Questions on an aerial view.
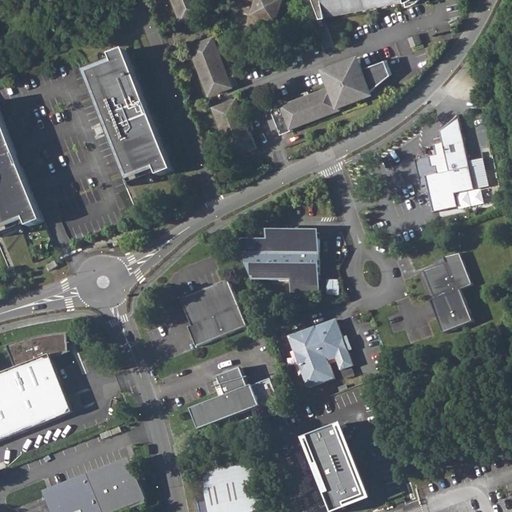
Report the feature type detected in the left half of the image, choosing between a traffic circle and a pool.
traffic circle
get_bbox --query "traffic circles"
[74,253,132,311]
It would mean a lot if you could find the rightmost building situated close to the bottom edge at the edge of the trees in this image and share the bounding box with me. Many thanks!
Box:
[298,422,371,512]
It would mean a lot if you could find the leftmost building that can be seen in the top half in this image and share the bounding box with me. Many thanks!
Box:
[0,120,47,235]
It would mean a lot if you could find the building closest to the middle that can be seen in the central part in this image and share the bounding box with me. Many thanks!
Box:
[240,228,324,294]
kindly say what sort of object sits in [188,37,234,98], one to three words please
house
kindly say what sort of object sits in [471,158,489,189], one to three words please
shed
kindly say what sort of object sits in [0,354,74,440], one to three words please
building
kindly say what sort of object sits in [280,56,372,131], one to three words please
building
